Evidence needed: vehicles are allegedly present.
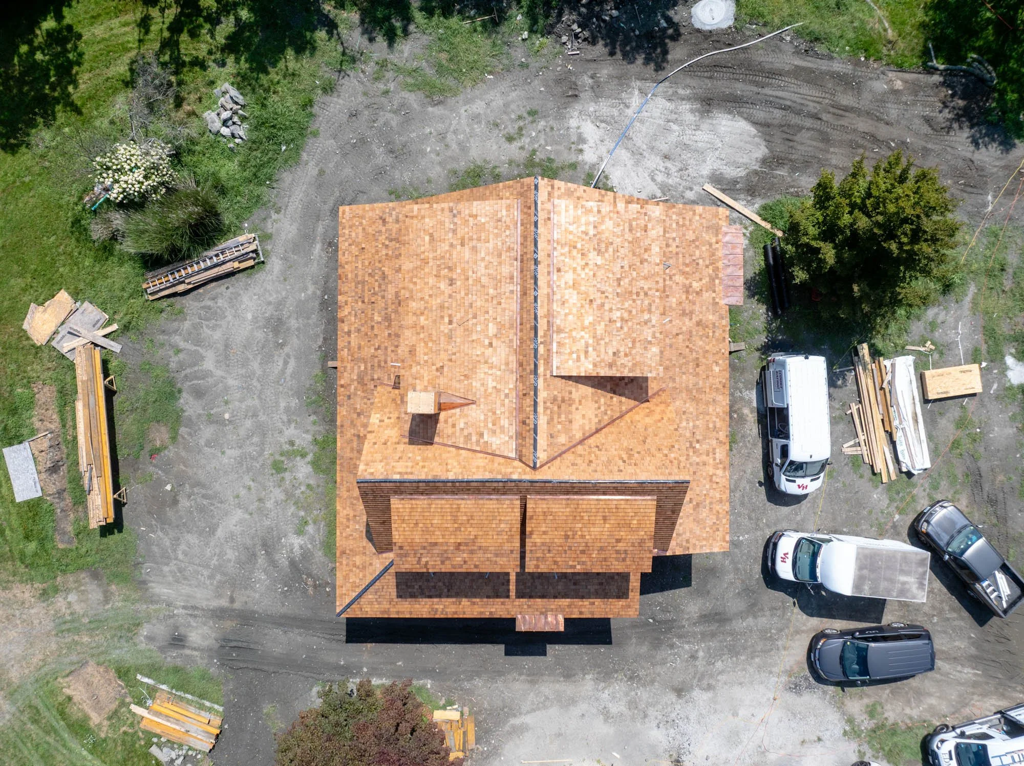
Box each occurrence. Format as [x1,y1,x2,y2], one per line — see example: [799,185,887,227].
[926,698,1024,766]
[763,354,833,495]
[764,530,932,604]
[809,621,941,686]
[916,499,1024,621]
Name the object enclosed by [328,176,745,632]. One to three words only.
house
